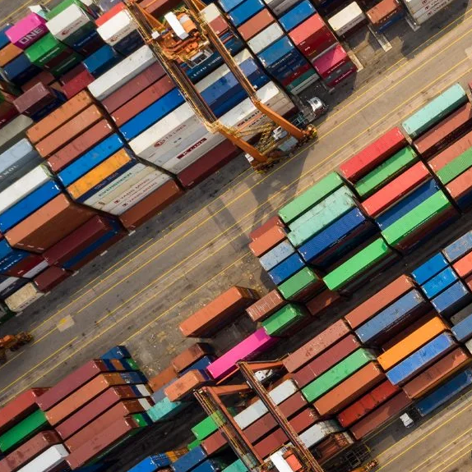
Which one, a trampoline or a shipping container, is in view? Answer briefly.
shipping container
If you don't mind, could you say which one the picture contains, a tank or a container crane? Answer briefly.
container crane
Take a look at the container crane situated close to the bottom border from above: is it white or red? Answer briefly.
red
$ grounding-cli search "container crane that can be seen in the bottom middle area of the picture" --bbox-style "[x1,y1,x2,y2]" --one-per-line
[186,345,378,472]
